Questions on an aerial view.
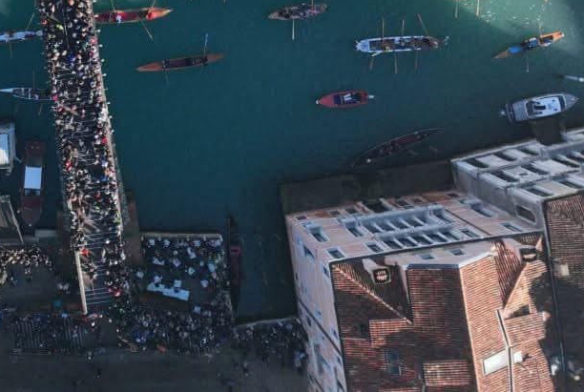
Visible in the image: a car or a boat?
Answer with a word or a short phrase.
boat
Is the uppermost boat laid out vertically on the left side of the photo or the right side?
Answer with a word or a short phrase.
left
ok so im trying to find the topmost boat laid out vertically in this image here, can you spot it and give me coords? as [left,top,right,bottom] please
[22,141,43,227]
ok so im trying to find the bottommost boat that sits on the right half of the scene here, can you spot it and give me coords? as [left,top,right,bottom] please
[351,129,450,173]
